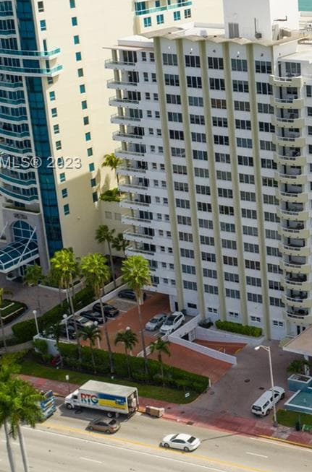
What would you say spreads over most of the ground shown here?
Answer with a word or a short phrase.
buildings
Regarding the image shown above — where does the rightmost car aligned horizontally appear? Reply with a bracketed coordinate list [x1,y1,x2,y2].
[161,434,201,452]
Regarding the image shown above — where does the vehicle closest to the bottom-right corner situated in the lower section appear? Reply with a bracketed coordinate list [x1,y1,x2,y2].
[252,384,284,411]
